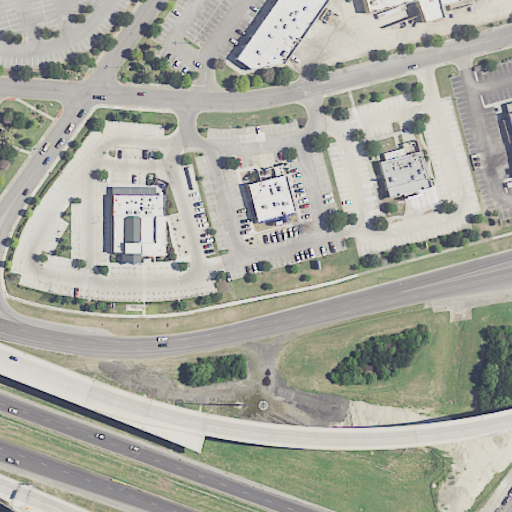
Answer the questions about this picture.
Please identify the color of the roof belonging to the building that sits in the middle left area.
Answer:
white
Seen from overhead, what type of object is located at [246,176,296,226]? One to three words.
building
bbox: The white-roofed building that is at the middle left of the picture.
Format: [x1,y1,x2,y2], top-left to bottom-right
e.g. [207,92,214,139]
[109,186,166,263]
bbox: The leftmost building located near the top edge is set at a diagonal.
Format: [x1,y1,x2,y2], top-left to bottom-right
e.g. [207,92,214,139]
[234,0,328,69]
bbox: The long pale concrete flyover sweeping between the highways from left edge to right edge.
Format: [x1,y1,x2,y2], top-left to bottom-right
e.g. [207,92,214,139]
[0,342,512,454]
